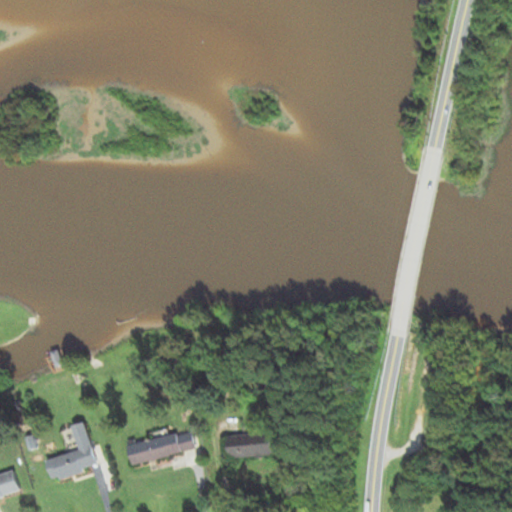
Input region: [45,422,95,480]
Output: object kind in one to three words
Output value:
house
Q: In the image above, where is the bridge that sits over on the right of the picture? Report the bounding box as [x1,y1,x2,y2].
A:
[390,146,444,336]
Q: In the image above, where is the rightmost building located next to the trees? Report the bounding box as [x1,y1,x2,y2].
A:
[224,436,271,460]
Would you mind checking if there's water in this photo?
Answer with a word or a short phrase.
Yes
